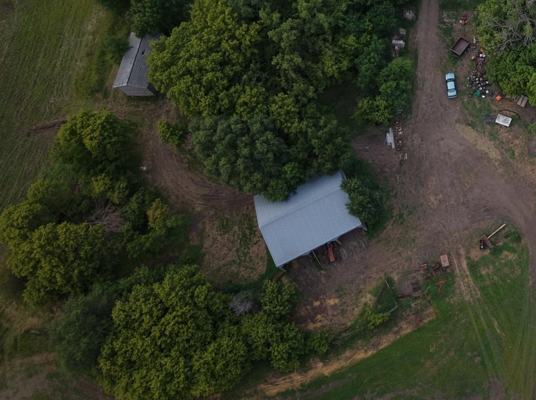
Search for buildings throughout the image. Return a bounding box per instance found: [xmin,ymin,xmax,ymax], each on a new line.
[254,158,368,270]
[115,27,168,95]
